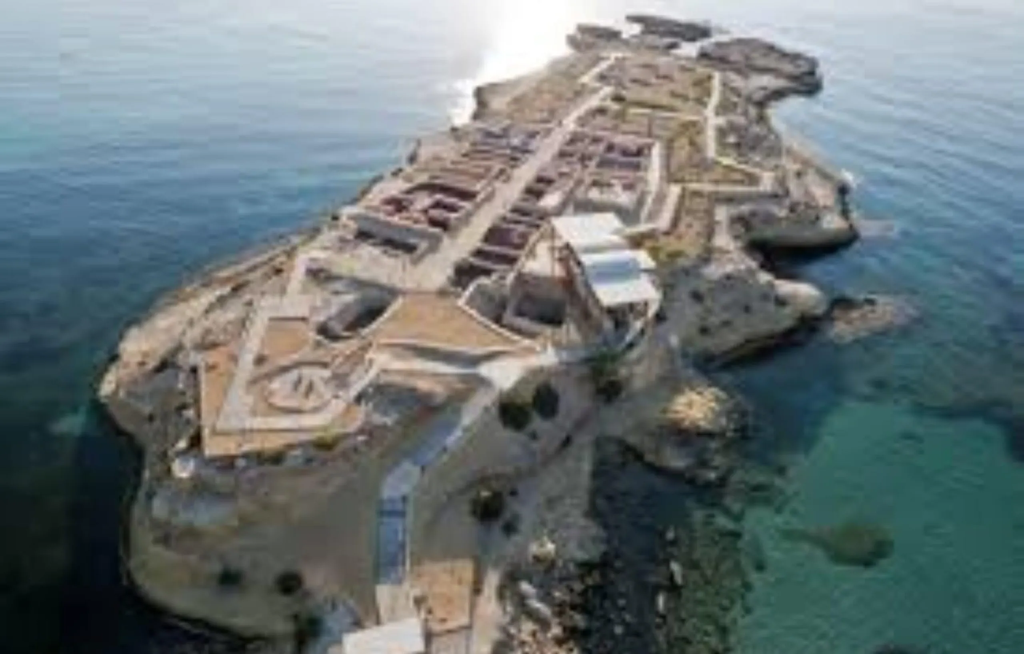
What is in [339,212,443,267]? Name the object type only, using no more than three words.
building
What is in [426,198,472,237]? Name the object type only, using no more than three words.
building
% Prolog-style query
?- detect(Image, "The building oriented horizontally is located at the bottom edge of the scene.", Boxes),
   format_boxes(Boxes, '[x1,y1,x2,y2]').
[341,617,425,654]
